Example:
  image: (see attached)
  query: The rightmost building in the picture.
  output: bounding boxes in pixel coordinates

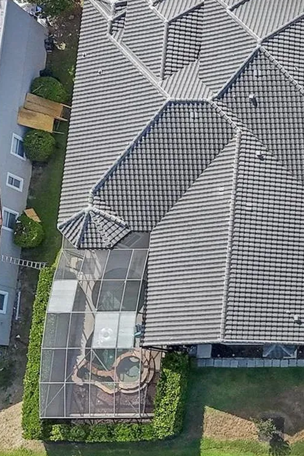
[56,0,304,357]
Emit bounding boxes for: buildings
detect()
[56,0,304,357]
[0,0,58,342]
